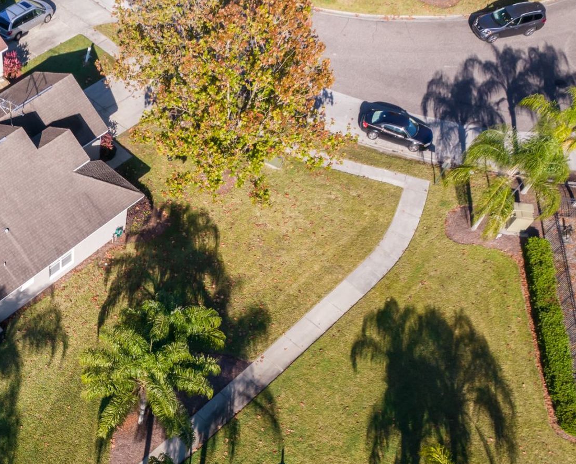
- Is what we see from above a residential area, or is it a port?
residential area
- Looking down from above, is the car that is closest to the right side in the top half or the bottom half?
top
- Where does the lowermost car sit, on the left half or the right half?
right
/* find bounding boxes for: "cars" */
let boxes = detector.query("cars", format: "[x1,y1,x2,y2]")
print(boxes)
[361,110,432,153]
[0,0,53,41]
[474,2,546,43]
